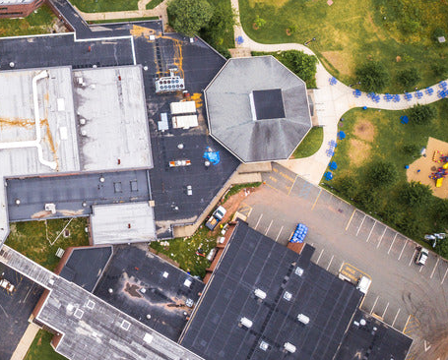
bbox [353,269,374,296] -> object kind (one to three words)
truck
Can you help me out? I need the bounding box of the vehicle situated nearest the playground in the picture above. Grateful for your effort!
[416,246,433,269]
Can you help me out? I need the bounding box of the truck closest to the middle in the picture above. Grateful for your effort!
[205,204,228,231]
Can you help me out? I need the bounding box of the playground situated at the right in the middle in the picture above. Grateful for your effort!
[407,137,448,194]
